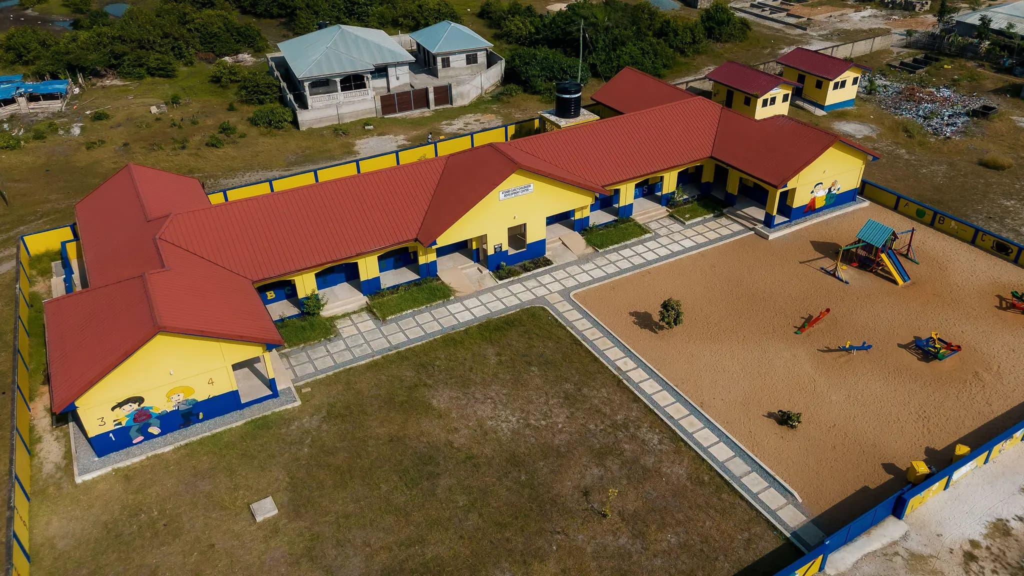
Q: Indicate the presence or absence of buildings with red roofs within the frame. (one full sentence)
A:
Yes, there's a building with a red roof down there.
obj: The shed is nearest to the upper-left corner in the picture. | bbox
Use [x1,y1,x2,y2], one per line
[0,73,72,118]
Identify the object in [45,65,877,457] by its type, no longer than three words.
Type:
building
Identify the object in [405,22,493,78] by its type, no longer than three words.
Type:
house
